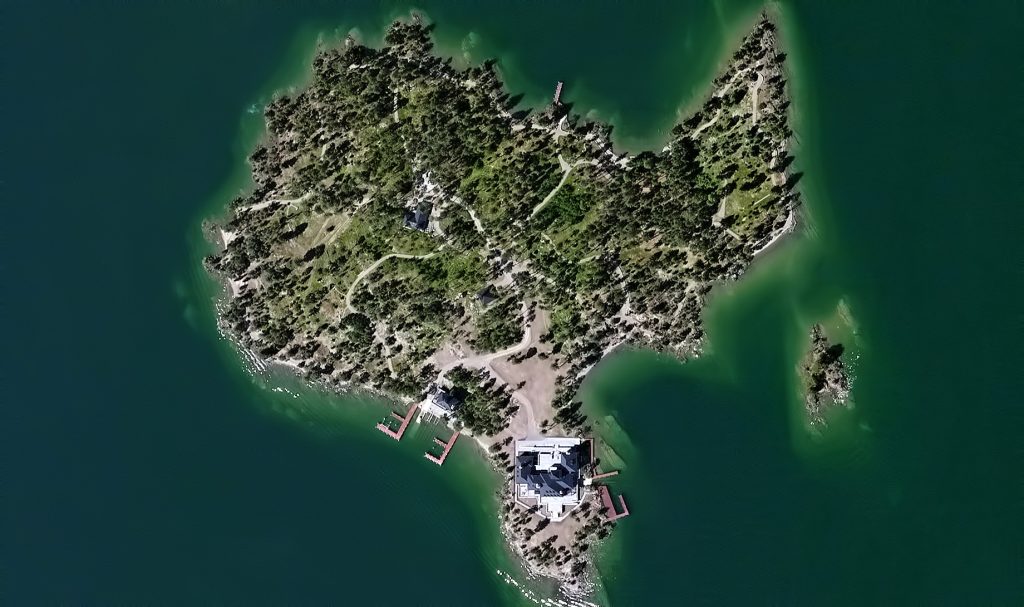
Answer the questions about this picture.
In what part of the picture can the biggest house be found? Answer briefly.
bottom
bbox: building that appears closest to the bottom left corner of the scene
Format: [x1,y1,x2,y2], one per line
[419,384,458,423]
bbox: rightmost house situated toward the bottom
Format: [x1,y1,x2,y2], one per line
[515,438,594,522]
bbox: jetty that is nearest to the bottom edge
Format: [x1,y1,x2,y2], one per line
[599,486,630,520]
